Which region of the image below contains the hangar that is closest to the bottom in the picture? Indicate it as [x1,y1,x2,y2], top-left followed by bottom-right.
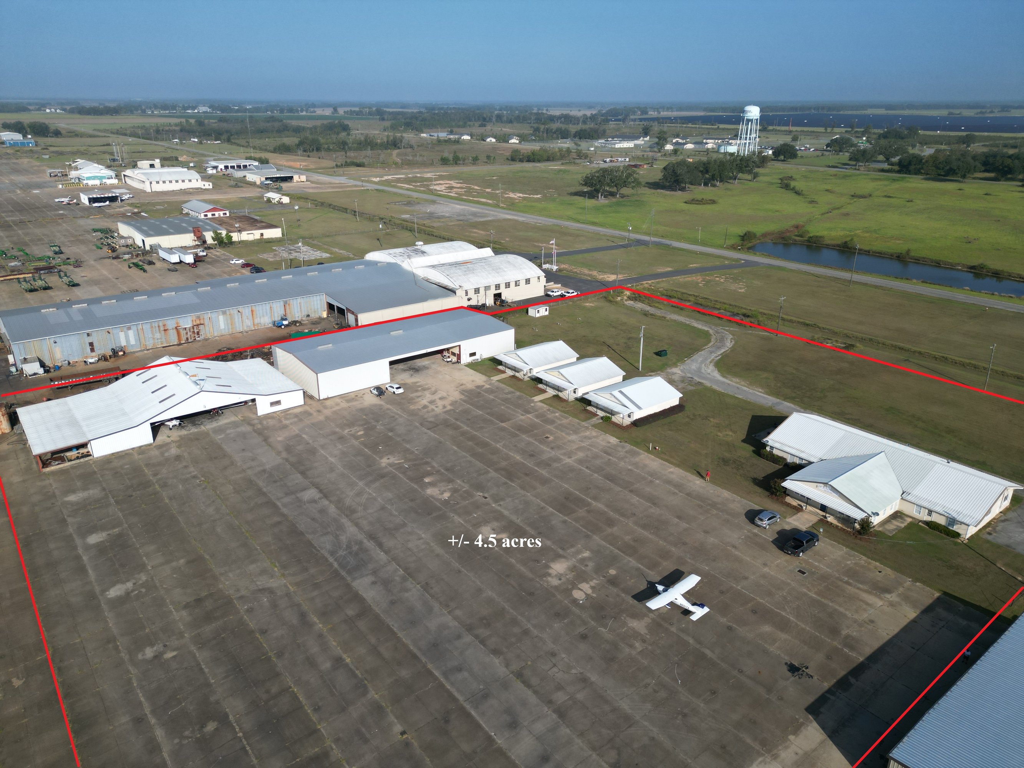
[887,611,1024,768]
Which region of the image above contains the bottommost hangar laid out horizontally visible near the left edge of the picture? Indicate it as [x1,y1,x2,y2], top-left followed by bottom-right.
[17,356,304,472]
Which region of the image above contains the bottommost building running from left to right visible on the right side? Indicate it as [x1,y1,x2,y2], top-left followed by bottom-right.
[761,411,1024,538]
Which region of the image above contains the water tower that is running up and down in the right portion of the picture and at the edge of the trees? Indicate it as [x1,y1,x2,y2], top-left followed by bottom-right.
[736,106,759,156]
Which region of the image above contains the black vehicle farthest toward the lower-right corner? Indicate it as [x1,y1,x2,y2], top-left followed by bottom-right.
[786,534,818,555]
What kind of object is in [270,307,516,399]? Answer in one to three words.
hangar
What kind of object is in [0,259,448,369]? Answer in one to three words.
shed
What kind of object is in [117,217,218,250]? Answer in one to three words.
building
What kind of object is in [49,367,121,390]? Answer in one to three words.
trailer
